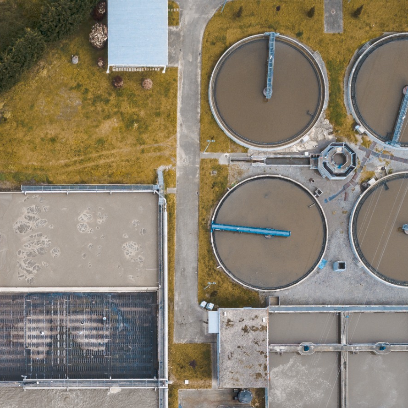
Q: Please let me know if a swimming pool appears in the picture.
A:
No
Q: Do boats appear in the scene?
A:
No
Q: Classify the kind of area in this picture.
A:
industrial area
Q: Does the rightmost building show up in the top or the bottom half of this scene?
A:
bottom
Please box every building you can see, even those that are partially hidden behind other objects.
[108,0,168,69]
[209,307,268,387]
